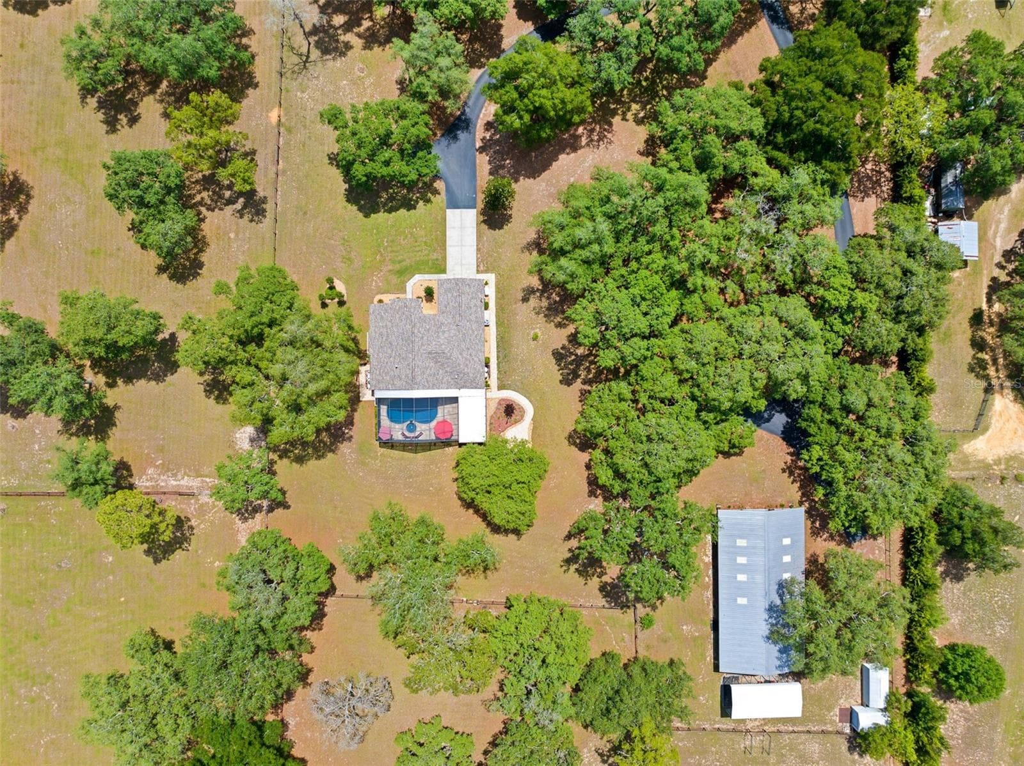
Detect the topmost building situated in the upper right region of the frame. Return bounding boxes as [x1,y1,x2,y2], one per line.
[930,158,966,219]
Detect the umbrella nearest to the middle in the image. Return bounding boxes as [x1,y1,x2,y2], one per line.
[433,419,453,439]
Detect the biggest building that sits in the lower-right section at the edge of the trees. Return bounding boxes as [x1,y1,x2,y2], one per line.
[712,508,806,675]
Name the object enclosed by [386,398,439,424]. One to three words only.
swimming pool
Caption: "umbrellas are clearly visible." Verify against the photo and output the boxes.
[433,419,453,439]
[378,422,392,437]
